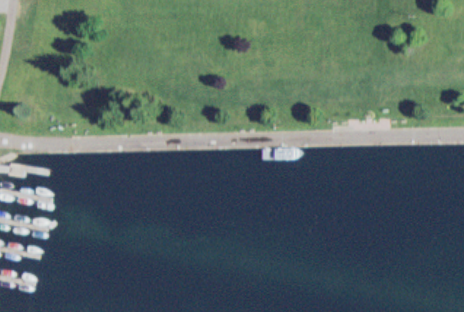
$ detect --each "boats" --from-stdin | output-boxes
[7,242,24,252]
[36,198,56,210]
[0,182,14,190]
[32,218,52,230]
[16,195,34,206]
[14,216,30,226]
[0,224,10,232]
[262,146,303,161]
[48,222,59,230]
[0,280,16,290]
[20,188,34,198]
[20,272,38,286]
[32,230,48,240]
[18,283,36,293]
[0,212,11,222]
[0,192,14,202]
[26,246,44,258]
[4,252,22,262]
[12,226,30,236]
[35,186,54,198]
[0,270,17,280]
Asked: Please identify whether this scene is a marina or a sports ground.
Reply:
marina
